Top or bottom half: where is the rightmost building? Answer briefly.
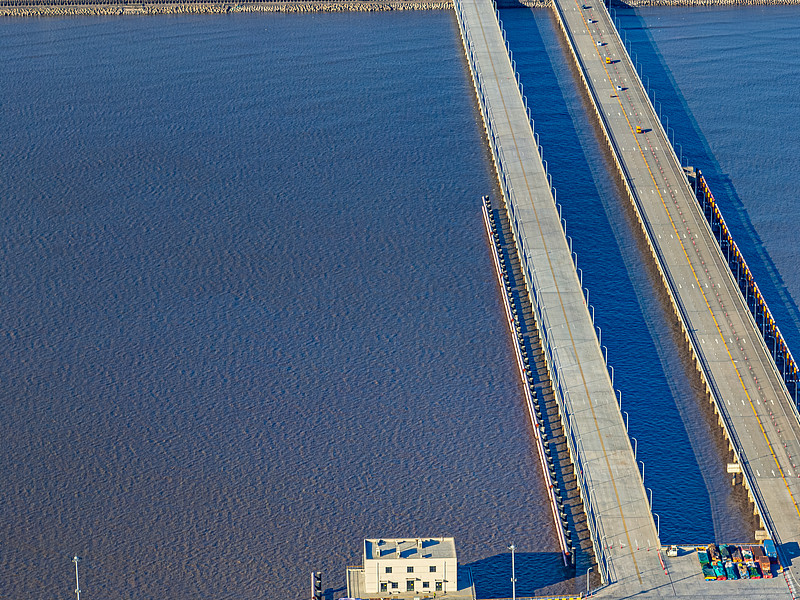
bottom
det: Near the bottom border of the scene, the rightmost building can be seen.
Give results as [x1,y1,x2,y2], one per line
[364,537,459,594]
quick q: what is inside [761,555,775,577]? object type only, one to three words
vehicle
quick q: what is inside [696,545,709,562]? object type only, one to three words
vehicle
